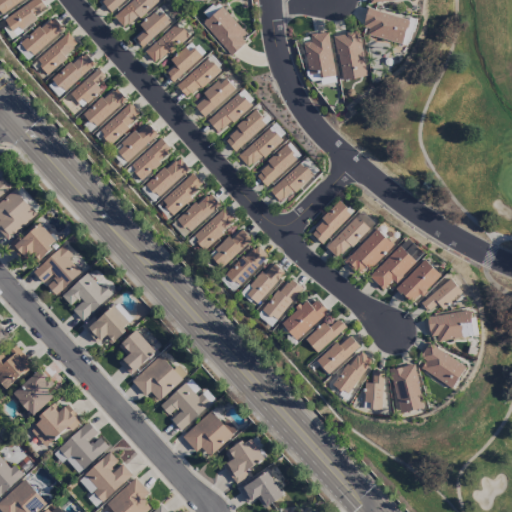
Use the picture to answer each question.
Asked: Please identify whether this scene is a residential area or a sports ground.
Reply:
residential area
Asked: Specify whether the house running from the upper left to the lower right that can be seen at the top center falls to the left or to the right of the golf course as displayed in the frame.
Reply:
on the left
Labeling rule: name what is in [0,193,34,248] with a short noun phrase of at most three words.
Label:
house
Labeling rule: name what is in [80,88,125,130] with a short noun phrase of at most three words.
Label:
house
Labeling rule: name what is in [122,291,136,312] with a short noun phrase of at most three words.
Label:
swimming pool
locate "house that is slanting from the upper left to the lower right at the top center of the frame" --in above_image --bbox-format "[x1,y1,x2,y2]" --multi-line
[204,4,251,53]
